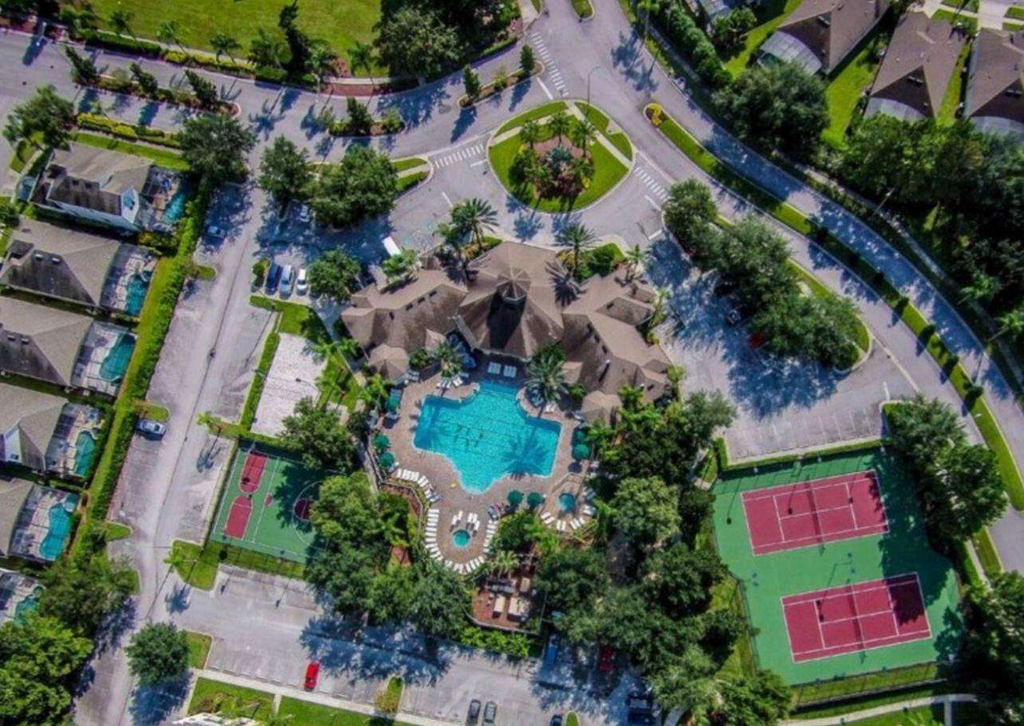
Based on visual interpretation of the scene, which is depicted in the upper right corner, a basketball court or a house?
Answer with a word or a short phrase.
house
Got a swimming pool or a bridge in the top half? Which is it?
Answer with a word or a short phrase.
swimming pool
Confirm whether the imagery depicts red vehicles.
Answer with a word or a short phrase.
Yes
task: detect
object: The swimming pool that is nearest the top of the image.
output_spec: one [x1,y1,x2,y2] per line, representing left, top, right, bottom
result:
[163,180,194,223]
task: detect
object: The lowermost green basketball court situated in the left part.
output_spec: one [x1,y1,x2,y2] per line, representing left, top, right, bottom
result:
[210,448,345,572]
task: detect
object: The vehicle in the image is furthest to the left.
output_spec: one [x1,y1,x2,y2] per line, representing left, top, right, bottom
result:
[135,420,164,436]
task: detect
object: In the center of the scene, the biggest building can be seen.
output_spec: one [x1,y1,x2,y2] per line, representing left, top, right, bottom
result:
[341,241,673,403]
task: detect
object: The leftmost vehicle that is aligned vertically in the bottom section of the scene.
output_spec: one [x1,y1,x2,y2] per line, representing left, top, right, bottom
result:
[303,661,319,691]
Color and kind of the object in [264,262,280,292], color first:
blue car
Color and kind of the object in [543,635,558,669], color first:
blue car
